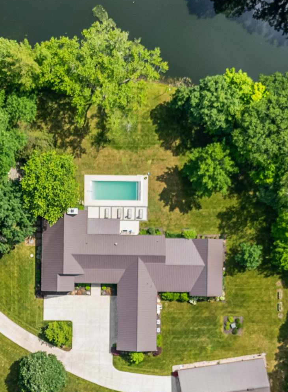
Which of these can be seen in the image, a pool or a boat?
pool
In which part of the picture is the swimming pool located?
center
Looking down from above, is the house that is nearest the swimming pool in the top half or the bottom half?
bottom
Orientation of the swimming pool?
from left to right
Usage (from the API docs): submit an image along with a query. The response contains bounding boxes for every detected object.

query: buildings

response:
[41,208,224,352]
[177,358,270,392]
